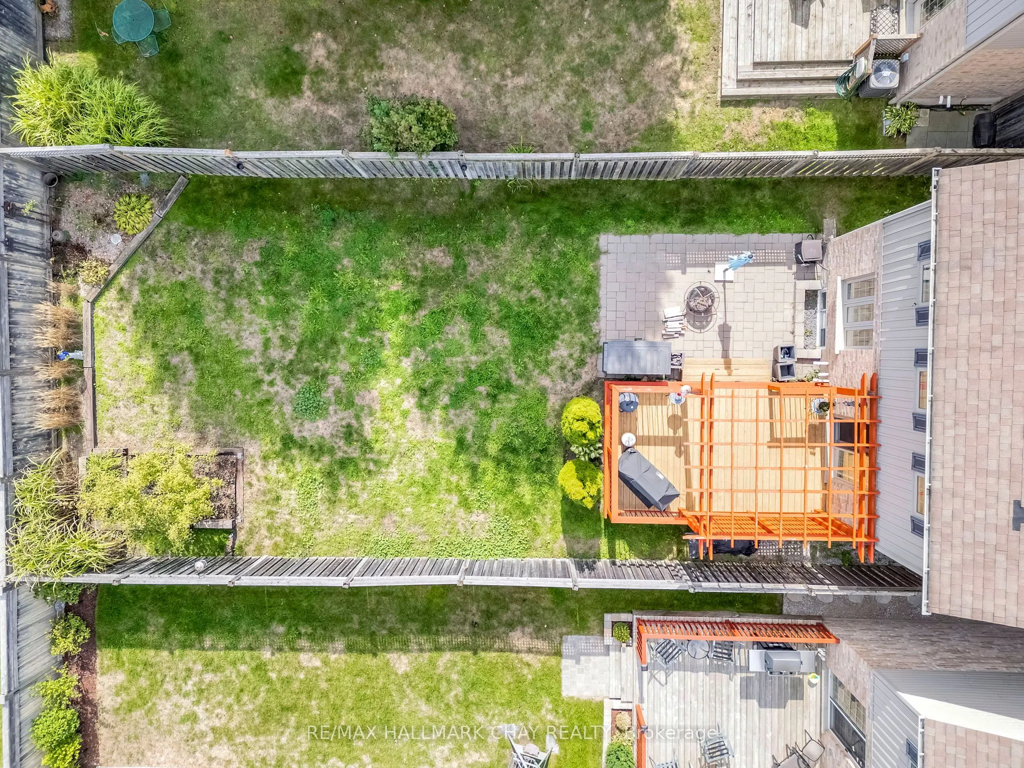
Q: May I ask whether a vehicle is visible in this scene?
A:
No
